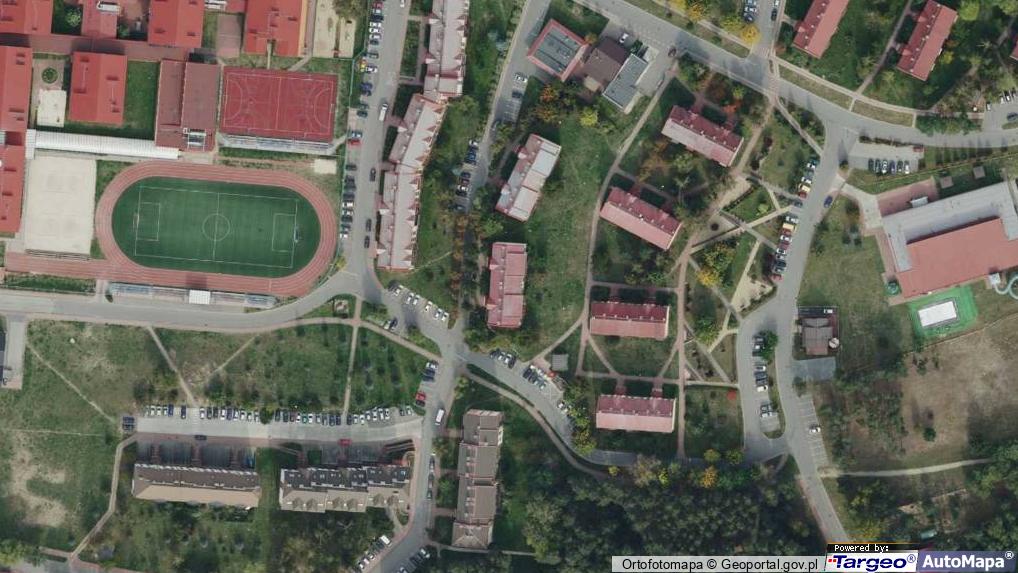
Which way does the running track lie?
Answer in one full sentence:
I'd say the running track is aligned horizontally in the picture.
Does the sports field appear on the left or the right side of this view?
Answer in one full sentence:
It is on the left.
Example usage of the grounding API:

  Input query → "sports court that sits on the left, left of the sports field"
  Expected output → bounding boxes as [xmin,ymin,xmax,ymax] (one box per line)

[25,154,96,255]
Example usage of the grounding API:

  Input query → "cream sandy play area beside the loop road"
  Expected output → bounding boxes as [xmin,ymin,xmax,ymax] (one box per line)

[733,272,774,309]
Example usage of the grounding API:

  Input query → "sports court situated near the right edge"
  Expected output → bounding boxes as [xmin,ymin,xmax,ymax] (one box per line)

[908,285,978,338]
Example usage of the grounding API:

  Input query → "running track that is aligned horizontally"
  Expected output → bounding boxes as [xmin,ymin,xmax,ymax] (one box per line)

[5,160,336,295]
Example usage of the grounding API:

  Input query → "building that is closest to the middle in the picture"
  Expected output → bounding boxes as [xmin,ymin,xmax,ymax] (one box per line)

[487,242,529,327]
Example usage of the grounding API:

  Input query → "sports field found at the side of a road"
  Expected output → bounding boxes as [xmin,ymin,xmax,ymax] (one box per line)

[112,176,321,278]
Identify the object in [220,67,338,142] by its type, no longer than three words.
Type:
sports court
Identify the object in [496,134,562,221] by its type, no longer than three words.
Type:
building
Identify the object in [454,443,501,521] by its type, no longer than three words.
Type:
building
